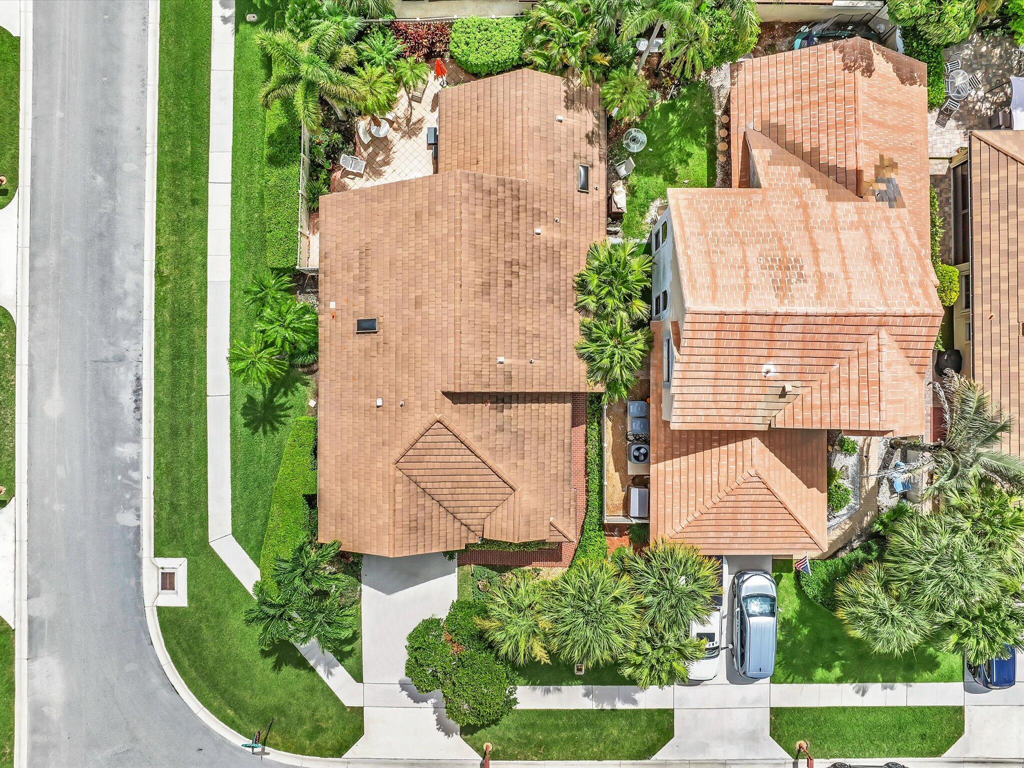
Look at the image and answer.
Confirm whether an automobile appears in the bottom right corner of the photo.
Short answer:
Yes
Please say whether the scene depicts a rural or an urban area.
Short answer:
urban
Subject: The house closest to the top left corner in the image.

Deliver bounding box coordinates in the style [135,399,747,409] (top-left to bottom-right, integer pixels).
[316,69,608,556]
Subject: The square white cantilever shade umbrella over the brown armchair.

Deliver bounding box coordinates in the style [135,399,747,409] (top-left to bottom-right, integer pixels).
[982,79,1024,129]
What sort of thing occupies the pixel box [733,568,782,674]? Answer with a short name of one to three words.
car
